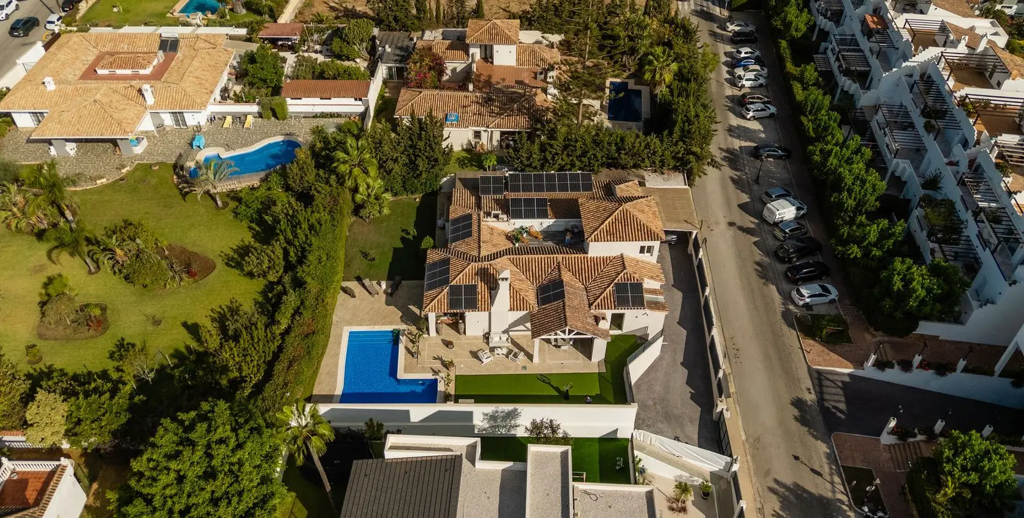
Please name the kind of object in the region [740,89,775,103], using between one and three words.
car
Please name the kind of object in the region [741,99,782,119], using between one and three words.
car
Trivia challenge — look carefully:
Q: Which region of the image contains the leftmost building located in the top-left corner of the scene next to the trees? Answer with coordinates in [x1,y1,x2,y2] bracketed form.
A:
[0,30,235,142]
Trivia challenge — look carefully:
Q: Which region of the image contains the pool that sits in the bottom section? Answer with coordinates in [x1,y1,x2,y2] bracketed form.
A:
[337,328,438,401]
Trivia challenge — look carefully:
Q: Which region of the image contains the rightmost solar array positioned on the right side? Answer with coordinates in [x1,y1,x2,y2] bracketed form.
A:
[614,283,645,308]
